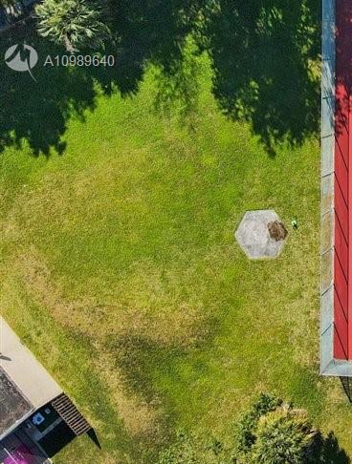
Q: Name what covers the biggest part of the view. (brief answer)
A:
grass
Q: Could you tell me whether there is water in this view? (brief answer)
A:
No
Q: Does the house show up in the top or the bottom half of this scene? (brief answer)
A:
bottom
